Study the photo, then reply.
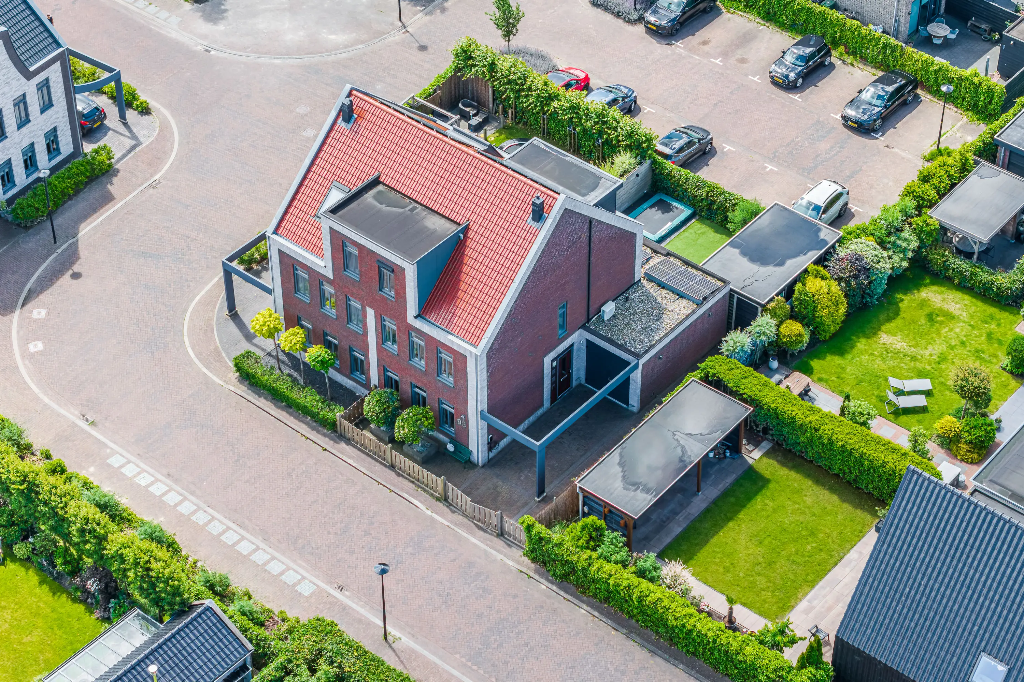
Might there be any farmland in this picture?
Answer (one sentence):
No, farmland can't be seen anywhere here.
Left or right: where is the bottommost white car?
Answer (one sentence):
It is on the right.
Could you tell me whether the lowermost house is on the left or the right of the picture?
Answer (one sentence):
The lowermost house sits on the left side.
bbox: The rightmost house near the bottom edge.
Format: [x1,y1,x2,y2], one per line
[834,458,1024,682]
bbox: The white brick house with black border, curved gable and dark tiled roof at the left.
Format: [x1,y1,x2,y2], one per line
[0,0,128,204]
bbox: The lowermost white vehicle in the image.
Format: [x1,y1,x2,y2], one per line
[785,180,851,225]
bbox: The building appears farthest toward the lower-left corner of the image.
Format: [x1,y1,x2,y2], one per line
[35,592,258,682]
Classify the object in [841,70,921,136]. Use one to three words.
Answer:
car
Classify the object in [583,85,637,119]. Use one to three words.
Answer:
car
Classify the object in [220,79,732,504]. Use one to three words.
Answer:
house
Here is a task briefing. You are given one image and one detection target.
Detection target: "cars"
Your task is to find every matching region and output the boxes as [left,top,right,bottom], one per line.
[654,127,713,177]
[767,33,833,89]
[583,85,637,119]
[841,70,921,136]
[642,0,717,39]
[74,92,110,133]
[785,180,851,225]
[537,65,589,97]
